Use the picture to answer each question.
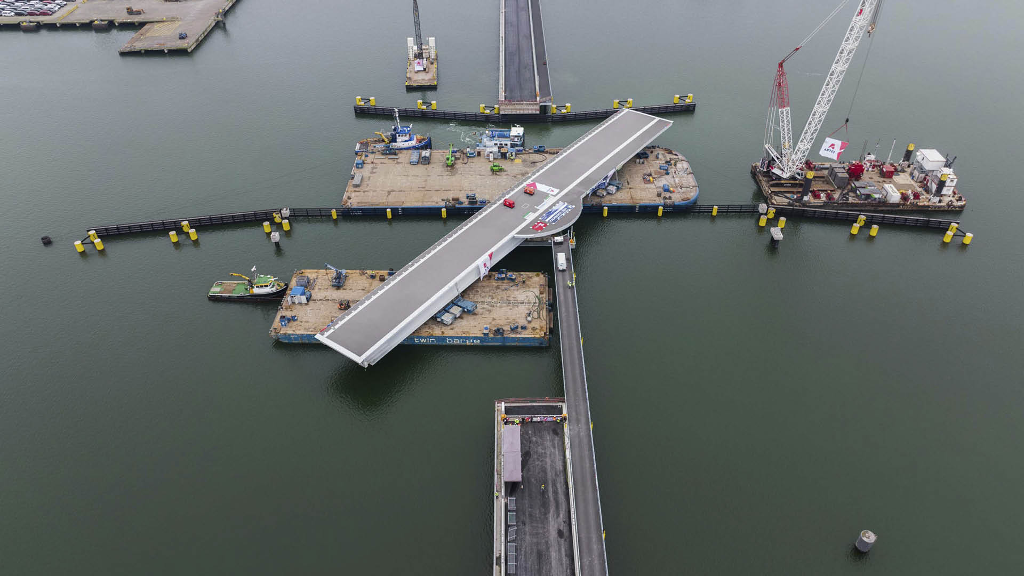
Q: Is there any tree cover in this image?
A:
No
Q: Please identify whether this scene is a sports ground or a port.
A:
port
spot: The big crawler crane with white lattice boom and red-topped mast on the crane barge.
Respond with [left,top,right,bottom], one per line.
[752,0,887,187]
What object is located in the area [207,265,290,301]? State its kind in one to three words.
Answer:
boat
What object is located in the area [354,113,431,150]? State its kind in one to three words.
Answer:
boat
